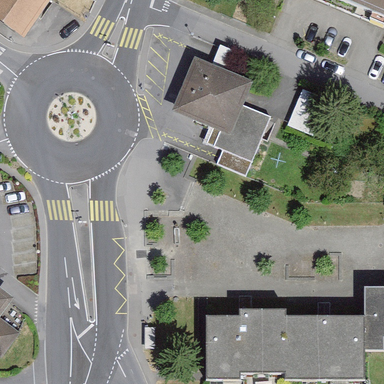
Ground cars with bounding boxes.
[304,22,318,44]
[296,49,318,64]
[338,36,352,58]
[8,204,30,214]
[0,181,12,192]
[324,26,338,50]
[321,58,346,75]
[370,55,384,80]
[6,191,27,202]
[59,18,82,39]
